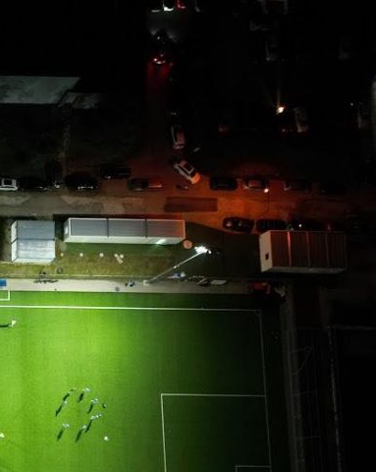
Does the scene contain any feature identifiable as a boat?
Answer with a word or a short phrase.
No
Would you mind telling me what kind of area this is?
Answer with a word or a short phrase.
sports ground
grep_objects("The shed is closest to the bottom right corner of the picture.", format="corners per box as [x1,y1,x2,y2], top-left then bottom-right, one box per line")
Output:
[259,226,354,274]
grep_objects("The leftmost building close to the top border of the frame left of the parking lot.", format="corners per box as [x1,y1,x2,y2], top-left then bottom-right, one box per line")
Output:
[0,0,76,106]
